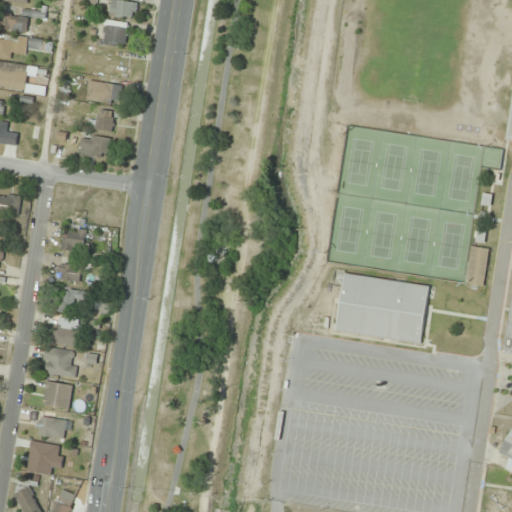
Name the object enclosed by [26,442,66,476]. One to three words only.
house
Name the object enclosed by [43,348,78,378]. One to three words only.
house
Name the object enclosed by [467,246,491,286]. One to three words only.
building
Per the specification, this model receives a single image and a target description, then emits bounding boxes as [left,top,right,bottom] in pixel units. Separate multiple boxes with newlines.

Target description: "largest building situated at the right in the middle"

[336,272,432,345]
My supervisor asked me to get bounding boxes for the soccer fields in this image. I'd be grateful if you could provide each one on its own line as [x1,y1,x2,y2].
[362,0,465,107]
